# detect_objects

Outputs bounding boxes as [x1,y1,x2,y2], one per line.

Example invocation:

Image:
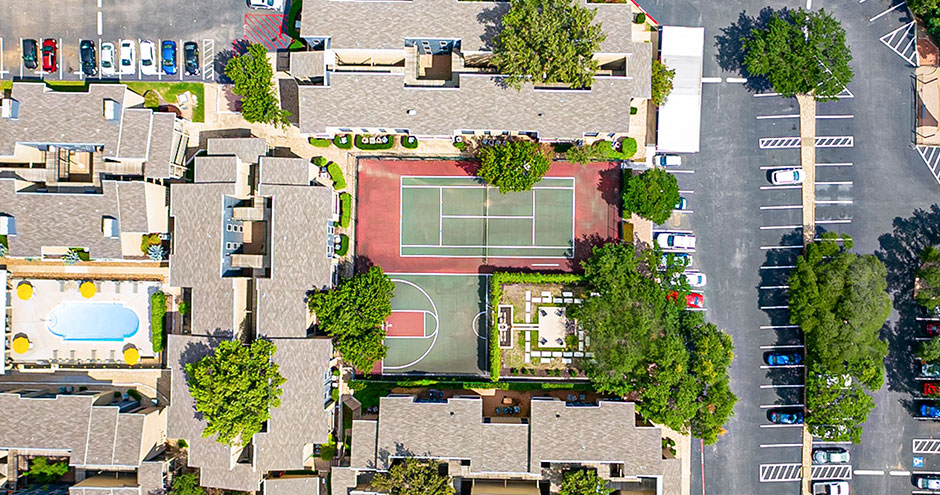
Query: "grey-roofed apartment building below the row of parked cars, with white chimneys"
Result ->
[0,83,195,262]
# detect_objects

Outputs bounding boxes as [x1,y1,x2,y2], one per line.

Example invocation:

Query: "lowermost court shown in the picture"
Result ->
[387,274,489,375]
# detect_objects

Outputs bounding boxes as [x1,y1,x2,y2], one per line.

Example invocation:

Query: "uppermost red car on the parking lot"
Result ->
[39,39,60,73]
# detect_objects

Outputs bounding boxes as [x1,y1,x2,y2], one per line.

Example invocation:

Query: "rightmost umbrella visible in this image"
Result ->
[124,346,142,362]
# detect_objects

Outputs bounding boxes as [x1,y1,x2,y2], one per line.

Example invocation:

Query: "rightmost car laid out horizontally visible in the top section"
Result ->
[769,167,804,184]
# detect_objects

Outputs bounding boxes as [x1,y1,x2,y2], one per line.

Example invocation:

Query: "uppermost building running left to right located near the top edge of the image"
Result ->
[289,0,652,145]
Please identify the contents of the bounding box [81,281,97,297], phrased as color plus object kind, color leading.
yellow umbrella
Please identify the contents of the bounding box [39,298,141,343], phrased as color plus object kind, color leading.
white swimming pool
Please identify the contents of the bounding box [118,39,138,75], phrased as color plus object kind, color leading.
white car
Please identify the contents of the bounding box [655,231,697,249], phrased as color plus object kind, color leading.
white vehicle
